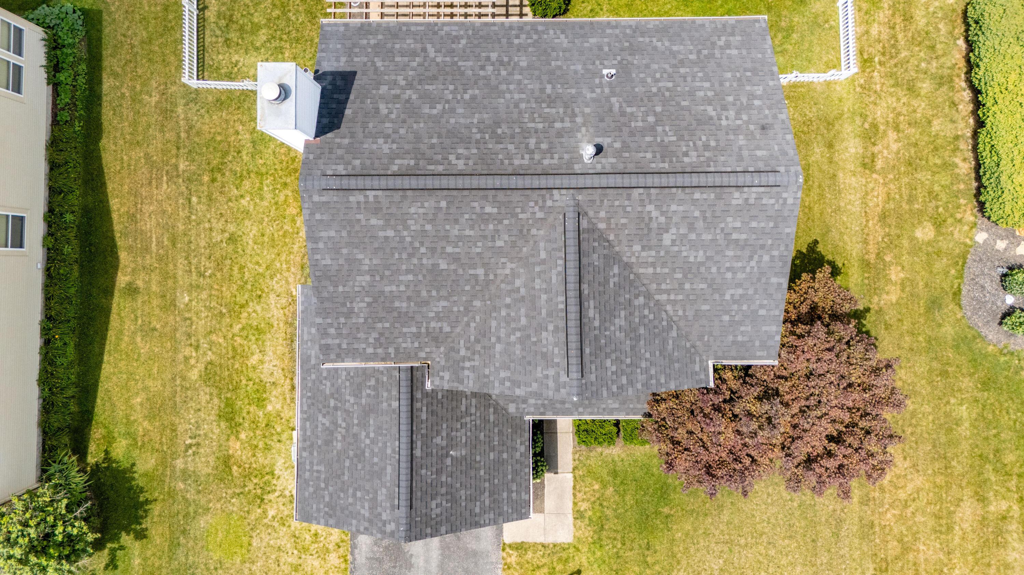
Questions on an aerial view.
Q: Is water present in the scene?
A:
No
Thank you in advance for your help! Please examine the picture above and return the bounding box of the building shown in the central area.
[258,15,803,544]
